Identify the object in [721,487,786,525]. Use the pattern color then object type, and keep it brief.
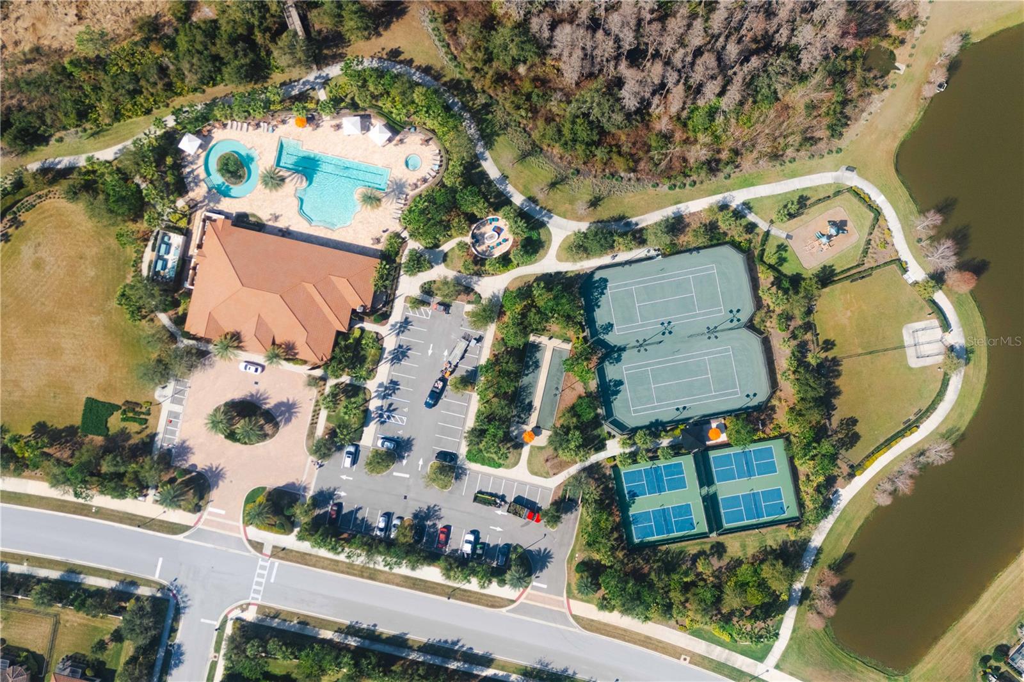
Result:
blue sports court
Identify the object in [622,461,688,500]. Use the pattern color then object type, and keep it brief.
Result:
blue sports court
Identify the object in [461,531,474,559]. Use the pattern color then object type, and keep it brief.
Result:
white vehicle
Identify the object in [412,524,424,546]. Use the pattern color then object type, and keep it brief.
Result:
black vehicle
